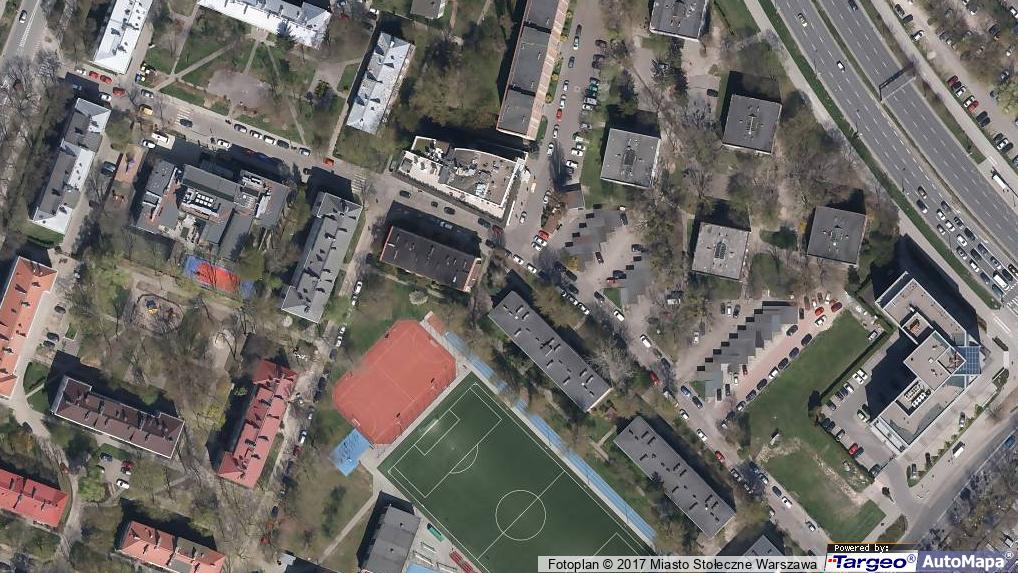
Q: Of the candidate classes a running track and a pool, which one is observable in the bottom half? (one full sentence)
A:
It is a running track that can be seen in the bottom half.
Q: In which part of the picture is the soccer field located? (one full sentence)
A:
The soccer field appears toward the bottom of the photo.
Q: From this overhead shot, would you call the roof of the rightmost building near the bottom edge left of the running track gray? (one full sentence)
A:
Yes, gray is the color of the roof of the rightmost building near the bottom edge left of the running track.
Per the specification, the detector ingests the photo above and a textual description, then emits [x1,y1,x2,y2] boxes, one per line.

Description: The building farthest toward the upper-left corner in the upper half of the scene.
[94,0,155,75]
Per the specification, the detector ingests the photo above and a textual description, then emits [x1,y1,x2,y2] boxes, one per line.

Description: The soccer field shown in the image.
[380,373,675,573]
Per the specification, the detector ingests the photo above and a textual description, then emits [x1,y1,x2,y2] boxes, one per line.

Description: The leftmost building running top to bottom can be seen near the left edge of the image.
[0,256,61,398]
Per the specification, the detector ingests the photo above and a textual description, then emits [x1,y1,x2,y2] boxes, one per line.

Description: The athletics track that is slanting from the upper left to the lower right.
[430,310,661,552]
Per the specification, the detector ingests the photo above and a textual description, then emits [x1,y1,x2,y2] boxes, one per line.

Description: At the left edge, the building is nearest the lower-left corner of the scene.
[0,468,71,527]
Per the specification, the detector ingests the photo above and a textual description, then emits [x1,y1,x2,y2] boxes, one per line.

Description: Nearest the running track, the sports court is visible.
[333,320,456,444]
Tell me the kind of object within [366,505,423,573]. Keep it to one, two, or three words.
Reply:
building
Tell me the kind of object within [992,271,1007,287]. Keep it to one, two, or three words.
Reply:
vehicle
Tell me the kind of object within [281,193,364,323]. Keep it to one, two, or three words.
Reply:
building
